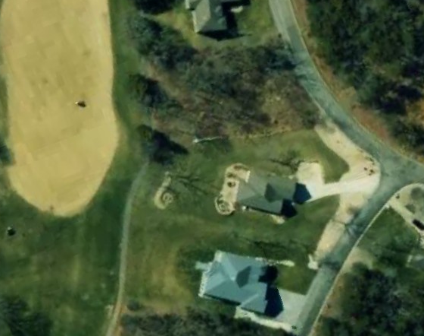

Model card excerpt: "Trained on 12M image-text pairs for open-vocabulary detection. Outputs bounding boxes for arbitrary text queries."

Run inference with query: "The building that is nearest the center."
[235,171,300,217]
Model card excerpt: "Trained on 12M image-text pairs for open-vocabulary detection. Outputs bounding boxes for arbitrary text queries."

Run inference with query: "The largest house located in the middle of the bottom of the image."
[201,251,272,318]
